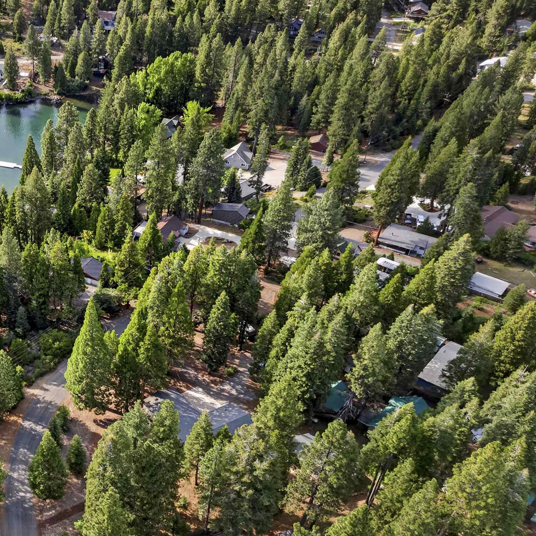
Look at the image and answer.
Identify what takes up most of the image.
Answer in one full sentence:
For the most part, this view shows trees.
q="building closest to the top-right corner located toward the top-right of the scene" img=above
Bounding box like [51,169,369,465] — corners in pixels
[507,23,536,39]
